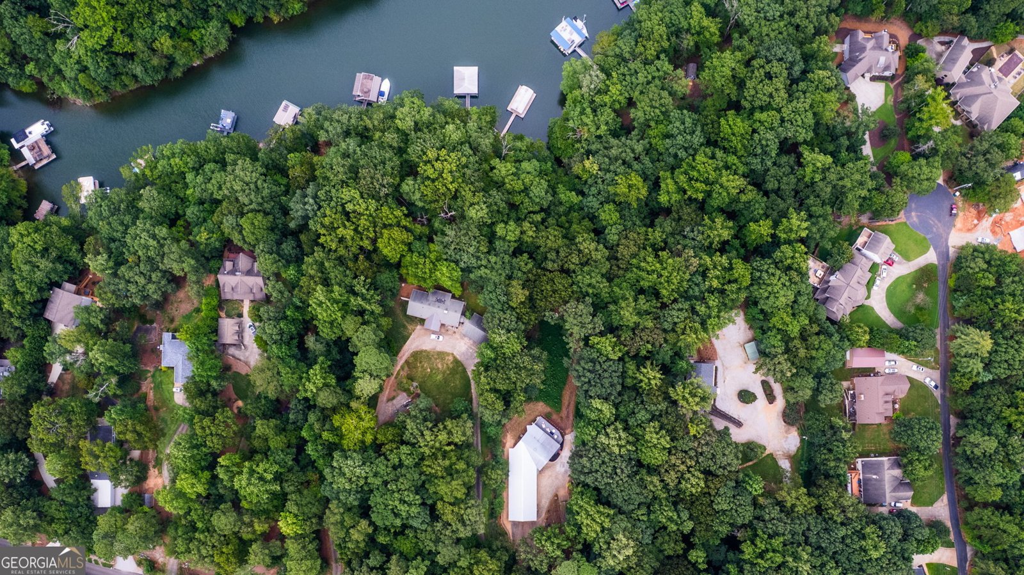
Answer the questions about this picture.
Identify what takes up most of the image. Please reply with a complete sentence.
The largest share of the image is taken up by trees.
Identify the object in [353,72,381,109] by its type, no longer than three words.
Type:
pier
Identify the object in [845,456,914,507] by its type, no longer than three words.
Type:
house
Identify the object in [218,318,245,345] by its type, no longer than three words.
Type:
building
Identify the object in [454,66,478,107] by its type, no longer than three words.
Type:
pier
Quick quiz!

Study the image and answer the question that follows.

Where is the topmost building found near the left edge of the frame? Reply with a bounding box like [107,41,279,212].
[44,275,95,326]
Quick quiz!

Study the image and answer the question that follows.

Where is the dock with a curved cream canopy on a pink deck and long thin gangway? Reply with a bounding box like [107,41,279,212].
[499,85,536,138]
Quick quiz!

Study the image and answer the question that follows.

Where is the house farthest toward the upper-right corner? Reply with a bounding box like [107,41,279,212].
[935,35,1021,130]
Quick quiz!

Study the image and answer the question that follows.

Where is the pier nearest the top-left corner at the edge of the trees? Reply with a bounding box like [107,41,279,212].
[12,134,56,171]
